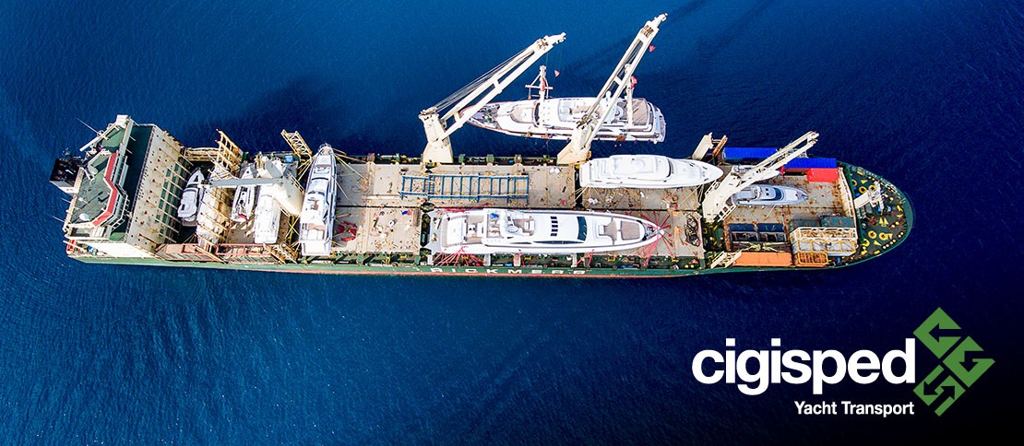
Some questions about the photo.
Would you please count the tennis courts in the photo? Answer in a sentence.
Not a single tennis court can be seen.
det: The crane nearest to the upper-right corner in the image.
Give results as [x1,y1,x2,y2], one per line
[859,178,893,208]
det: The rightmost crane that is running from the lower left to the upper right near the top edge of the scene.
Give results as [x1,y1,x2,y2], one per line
[558,6,672,171]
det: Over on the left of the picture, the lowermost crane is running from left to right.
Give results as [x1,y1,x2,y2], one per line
[199,172,309,214]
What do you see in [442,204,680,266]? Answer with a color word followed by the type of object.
white boat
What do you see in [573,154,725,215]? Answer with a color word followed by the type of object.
white boat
